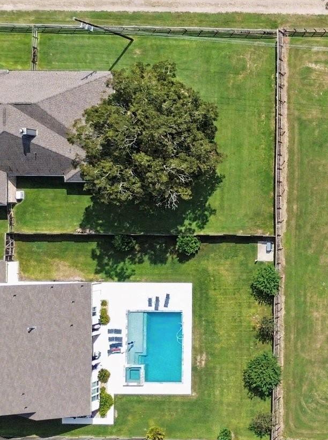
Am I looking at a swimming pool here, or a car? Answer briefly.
swimming pool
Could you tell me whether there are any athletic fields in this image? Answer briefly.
No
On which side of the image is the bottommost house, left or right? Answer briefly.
left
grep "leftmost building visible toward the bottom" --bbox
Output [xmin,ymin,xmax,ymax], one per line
[0,282,102,421]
